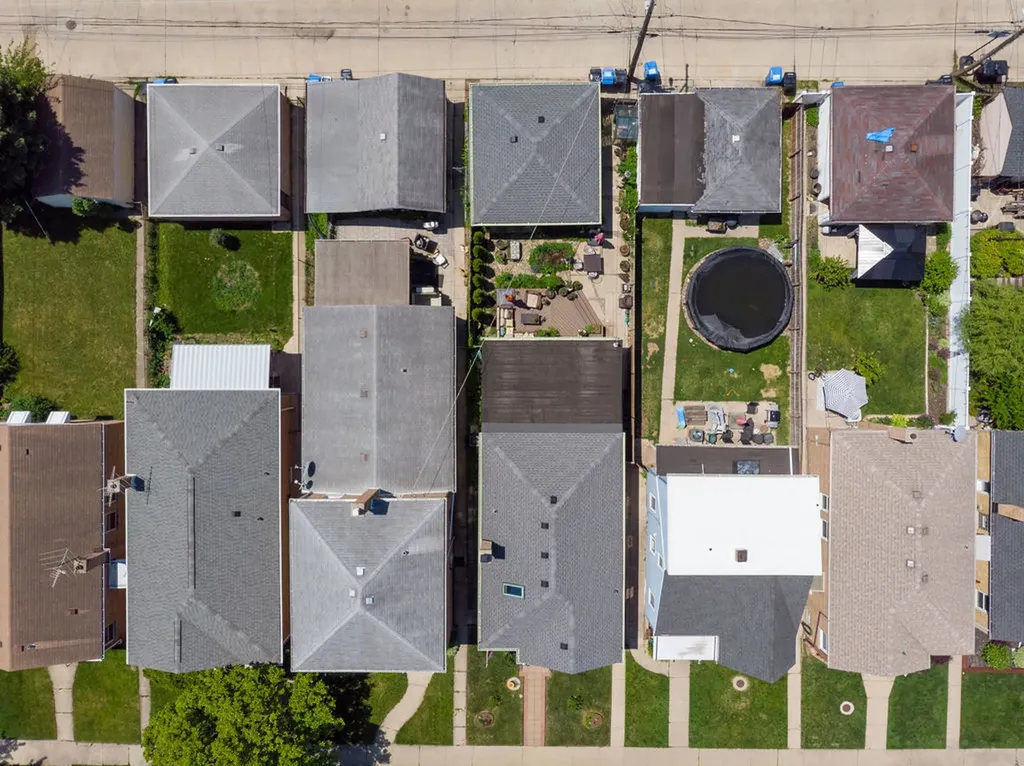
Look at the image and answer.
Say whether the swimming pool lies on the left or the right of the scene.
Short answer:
right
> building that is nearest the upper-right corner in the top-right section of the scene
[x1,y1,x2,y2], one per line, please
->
[974,96,1024,184]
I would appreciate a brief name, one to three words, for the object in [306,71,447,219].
building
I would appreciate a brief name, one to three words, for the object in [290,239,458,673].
house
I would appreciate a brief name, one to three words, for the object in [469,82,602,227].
building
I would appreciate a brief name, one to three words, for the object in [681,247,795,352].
swimming pool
